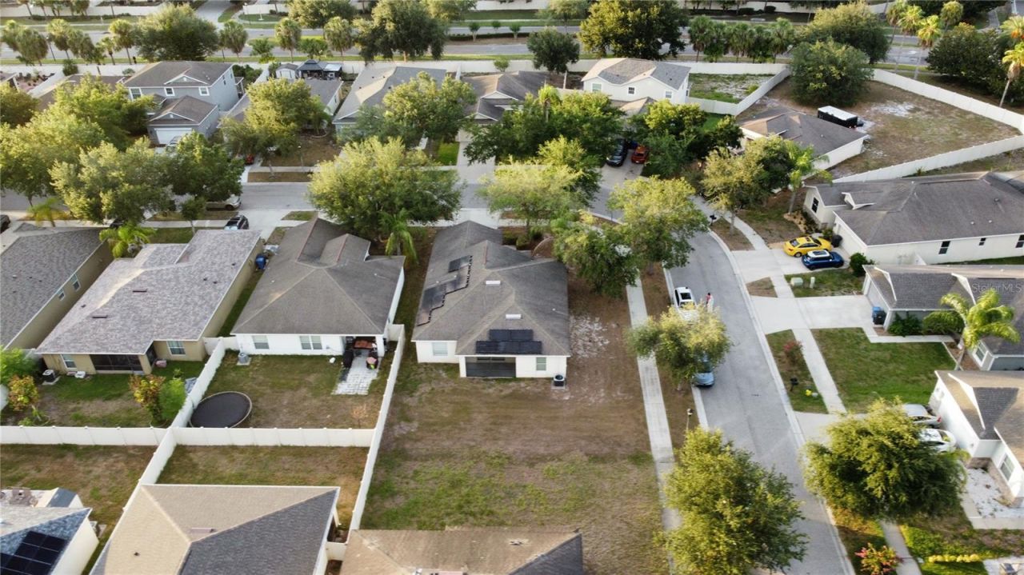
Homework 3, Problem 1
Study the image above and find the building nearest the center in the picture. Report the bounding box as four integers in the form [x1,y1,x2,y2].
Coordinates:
[411,218,570,380]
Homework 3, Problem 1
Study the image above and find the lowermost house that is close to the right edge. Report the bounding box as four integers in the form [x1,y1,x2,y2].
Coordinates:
[927,371,1024,506]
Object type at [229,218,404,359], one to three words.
house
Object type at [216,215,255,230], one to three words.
car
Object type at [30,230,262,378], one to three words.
house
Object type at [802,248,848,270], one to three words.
car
